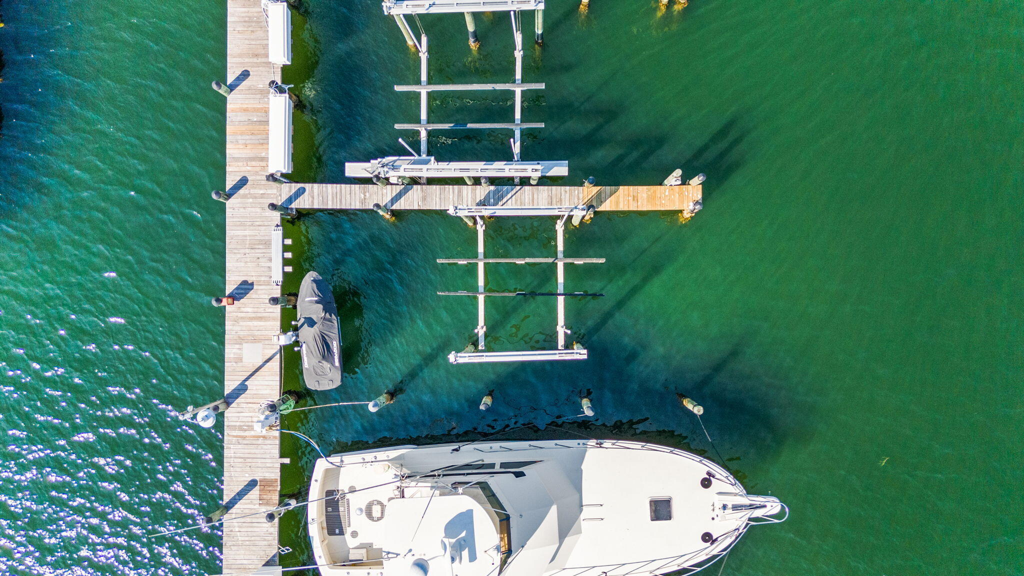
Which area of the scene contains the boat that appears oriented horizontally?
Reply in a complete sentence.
The boat that appears oriented horizontally is located in the bottom region of the scene.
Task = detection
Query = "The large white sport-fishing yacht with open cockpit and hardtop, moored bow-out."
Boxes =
[150,437,792,576]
